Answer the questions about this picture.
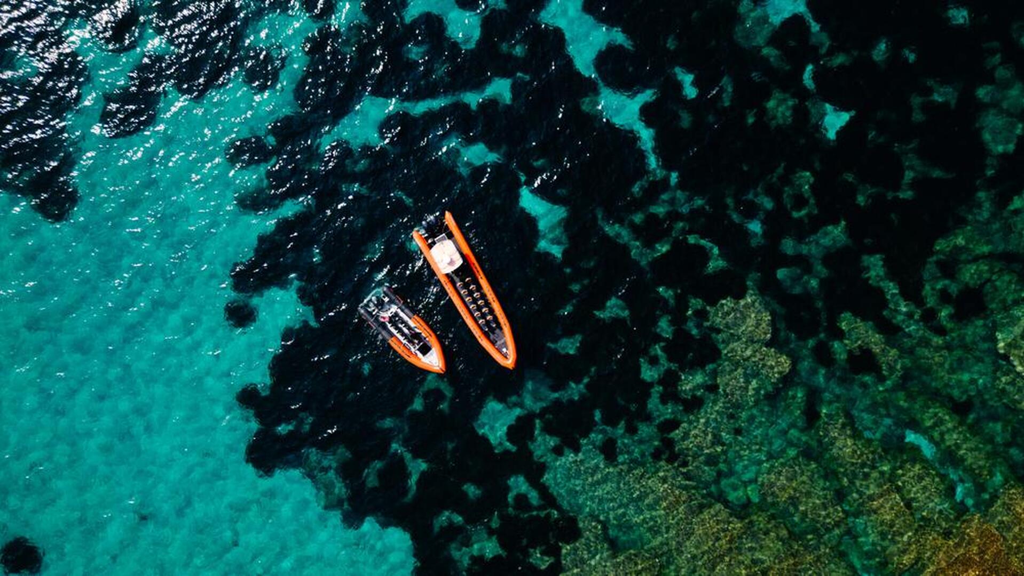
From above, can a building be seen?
No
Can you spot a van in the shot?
No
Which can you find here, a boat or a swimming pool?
boat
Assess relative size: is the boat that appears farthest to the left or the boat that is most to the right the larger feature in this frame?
the boat that is most to the right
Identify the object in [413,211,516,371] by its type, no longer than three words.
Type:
boat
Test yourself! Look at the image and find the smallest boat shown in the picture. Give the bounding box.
[361,286,444,374]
